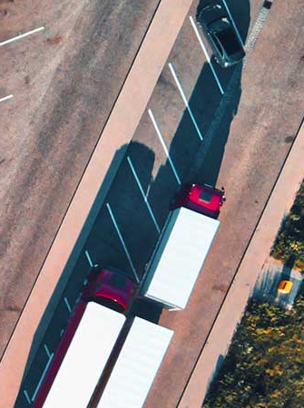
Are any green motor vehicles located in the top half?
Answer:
No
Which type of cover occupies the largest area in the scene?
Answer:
paved ground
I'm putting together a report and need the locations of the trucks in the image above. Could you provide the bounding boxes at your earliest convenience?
[31,266,135,408]
[85,178,226,408]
